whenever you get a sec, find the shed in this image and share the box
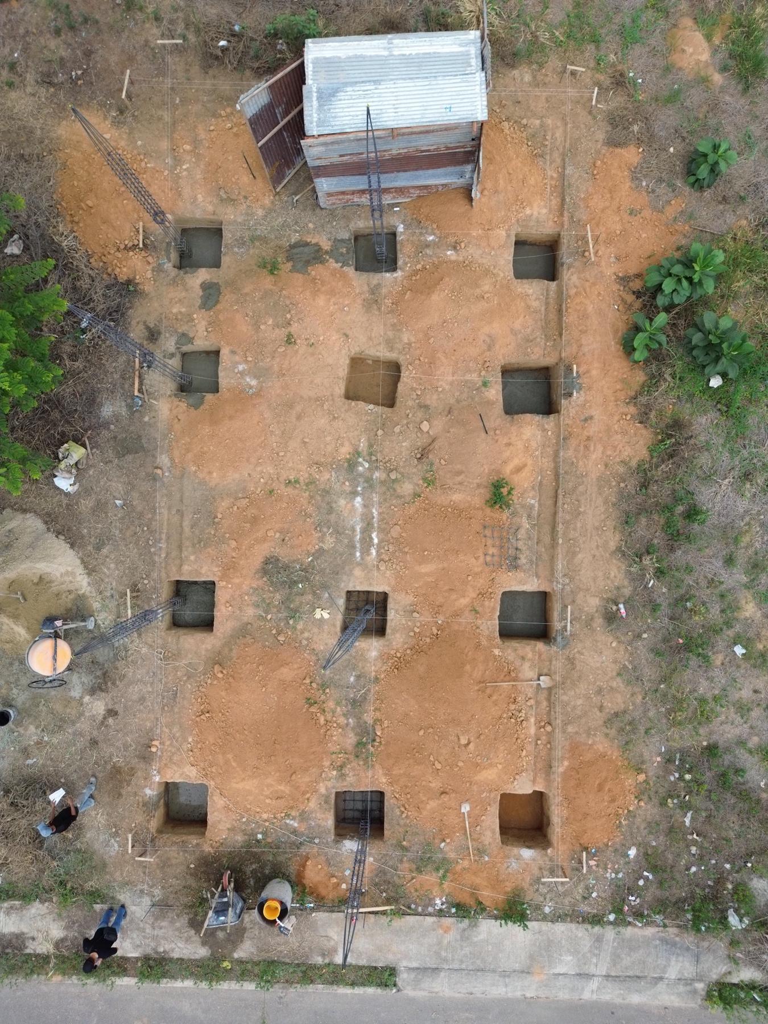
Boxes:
[242,30,496,207]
